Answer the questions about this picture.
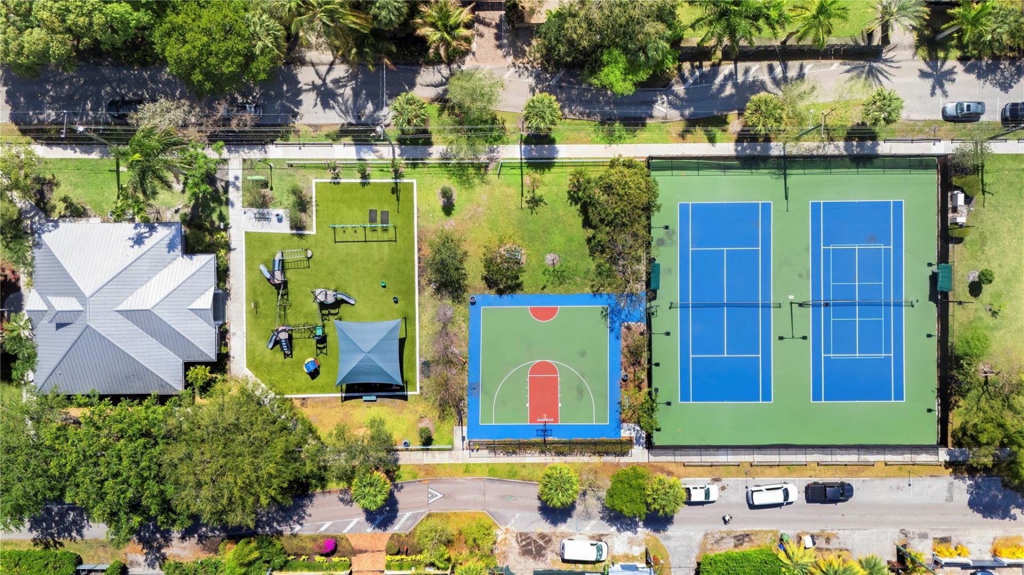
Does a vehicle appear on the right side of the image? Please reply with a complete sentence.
Yes, there is a vehicle on the right side of the image.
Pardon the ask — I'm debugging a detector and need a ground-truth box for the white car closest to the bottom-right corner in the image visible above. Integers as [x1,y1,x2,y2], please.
[746,483,795,505]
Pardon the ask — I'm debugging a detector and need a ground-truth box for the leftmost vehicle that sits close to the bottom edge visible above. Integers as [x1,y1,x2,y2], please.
[559,537,607,562]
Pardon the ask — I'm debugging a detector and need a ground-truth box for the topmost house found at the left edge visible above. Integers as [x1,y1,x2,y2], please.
[25,222,226,395]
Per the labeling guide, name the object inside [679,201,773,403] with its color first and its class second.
blue tennis court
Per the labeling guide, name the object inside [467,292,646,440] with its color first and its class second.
green basketball court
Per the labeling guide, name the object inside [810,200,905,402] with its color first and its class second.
blue tennis court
